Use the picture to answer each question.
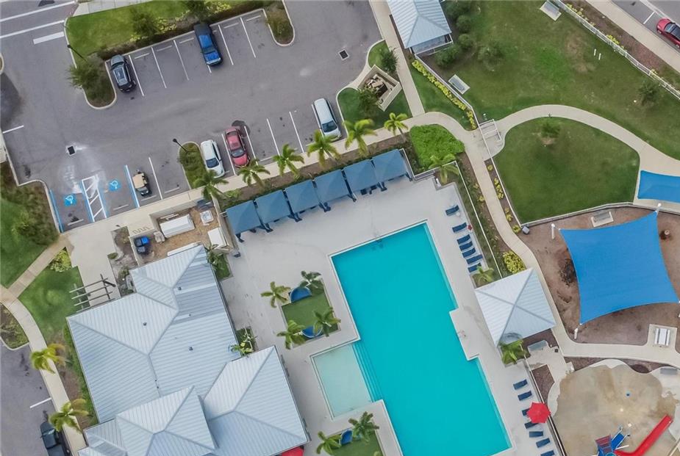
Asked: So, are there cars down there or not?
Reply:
Yes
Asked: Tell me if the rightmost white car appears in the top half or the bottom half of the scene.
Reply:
top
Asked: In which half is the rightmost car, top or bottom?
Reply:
top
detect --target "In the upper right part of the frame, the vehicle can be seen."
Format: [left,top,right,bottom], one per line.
[654,17,680,48]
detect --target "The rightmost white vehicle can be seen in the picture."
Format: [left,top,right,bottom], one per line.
[311,95,343,140]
